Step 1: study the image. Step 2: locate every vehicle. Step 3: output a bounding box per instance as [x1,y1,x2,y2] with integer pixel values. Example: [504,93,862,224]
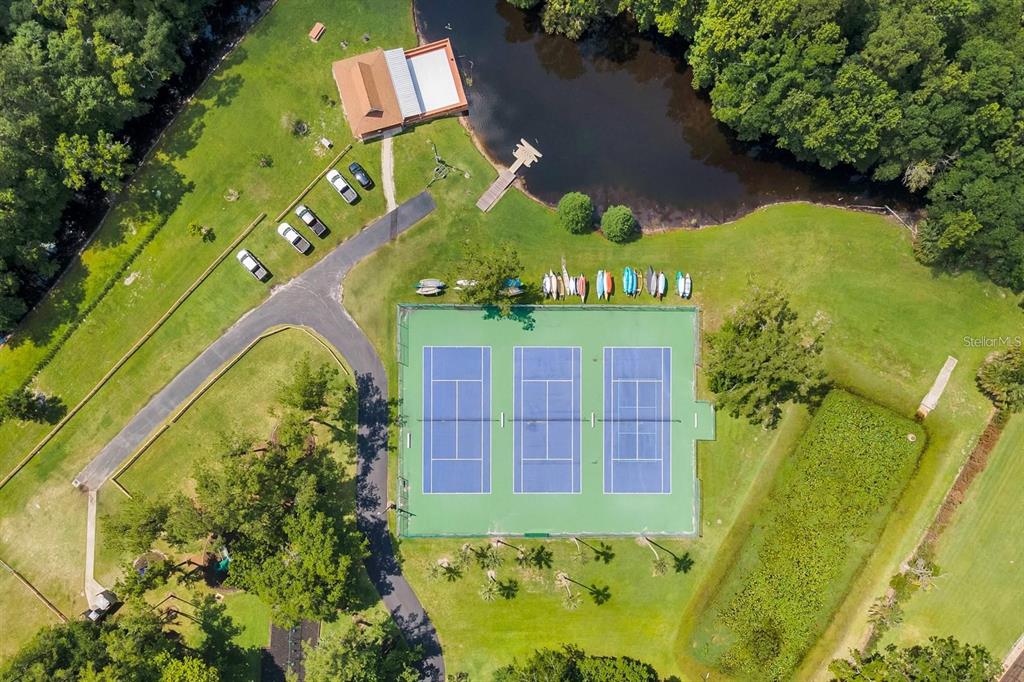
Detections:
[349,161,373,189]
[277,220,308,257]
[295,202,326,239]
[236,248,267,283]
[325,167,357,205]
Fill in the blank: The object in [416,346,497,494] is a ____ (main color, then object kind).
blue tennis court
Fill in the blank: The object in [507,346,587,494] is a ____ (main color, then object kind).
blue tennis court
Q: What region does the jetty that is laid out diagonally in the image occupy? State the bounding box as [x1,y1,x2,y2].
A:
[476,140,541,213]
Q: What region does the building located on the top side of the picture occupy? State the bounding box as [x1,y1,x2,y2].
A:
[332,37,468,145]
